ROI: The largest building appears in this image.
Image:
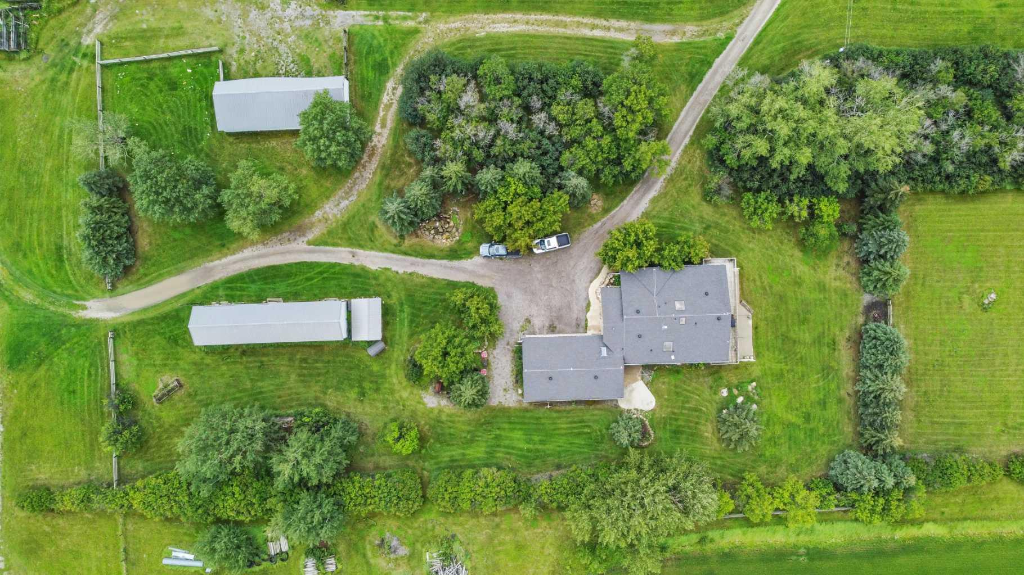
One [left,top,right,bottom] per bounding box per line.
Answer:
[514,264,731,407]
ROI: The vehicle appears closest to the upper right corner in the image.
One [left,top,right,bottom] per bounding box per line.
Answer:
[532,232,572,253]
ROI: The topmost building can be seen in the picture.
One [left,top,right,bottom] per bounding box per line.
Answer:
[213,77,350,134]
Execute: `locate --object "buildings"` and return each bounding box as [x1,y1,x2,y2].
[213,77,350,134]
[188,297,349,345]
[351,296,384,341]
[514,264,731,407]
